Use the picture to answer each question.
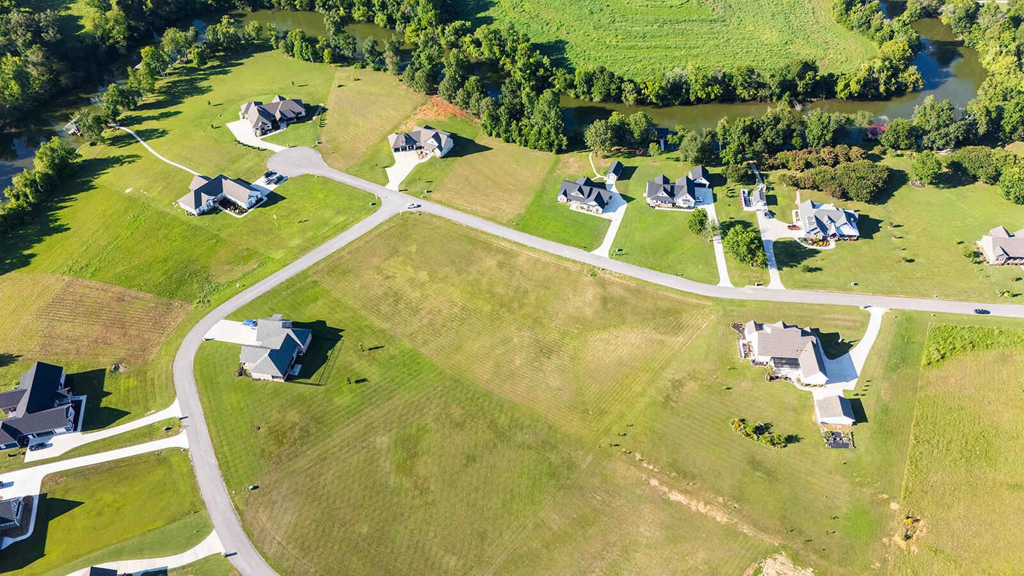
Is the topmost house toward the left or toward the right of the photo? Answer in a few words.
left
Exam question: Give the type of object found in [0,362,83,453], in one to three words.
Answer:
house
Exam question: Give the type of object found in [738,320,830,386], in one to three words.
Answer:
house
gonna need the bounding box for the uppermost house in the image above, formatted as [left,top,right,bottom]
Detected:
[240,95,309,136]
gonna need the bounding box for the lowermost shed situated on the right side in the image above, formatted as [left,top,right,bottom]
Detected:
[814,395,858,427]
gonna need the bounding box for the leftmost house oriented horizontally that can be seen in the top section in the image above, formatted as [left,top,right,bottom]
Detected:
[175,174,266,218]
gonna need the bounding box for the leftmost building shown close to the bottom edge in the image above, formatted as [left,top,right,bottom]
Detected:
[0,494,29,550]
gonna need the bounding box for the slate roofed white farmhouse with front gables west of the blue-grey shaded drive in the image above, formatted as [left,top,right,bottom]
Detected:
[555,177,615,218]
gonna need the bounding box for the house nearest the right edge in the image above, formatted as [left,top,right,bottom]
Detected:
[978,225,1024,267]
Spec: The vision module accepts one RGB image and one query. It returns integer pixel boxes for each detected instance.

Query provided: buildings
[80,565,123,576]
[237,314,315,385]
[814,395,858,427]
[794,199,859,245]
[645,175,698,209]
[978,225,1024,267]
[555,177,615,218]
[385,125,454,160]
[0,362,83,453]
[750,190,767,209]
[175,174,266,218]
[0,494,29,550]
[240,95,309,136]
[602,161,627,186]
[738,320,830,386]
